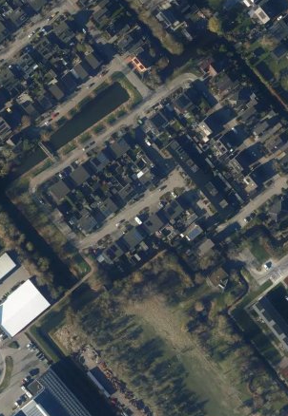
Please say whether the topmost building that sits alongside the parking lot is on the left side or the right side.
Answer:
left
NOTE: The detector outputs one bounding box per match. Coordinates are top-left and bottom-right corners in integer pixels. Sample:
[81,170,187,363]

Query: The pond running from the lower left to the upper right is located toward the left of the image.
[6,82,130,179]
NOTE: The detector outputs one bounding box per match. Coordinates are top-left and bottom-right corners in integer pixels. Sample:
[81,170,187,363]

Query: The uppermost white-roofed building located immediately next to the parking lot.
[0,281,51,338]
